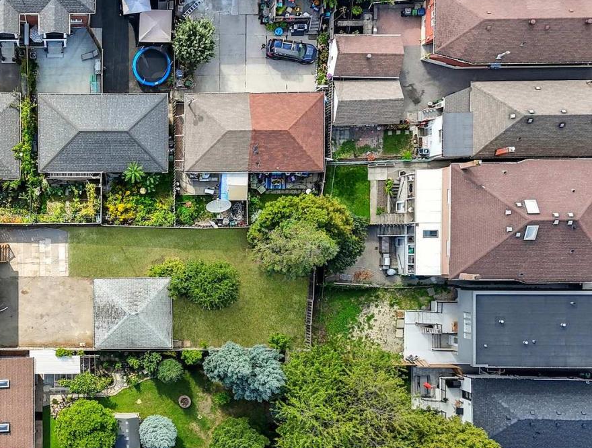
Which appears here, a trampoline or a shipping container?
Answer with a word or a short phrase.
trampoline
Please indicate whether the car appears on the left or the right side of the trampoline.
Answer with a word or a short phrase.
to the right of it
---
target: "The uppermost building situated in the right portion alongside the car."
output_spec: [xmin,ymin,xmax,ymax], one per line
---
[324,34,404,83]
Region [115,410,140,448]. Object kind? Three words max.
shed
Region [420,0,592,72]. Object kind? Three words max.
house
